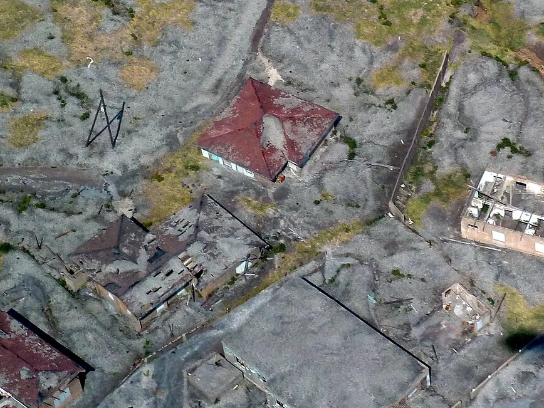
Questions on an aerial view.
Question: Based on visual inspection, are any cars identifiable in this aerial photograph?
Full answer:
No, the photo shows no car.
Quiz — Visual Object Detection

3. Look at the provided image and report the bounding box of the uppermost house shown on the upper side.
[194,76,343,196]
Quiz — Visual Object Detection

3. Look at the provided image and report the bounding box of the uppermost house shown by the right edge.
[448,161,544,261]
